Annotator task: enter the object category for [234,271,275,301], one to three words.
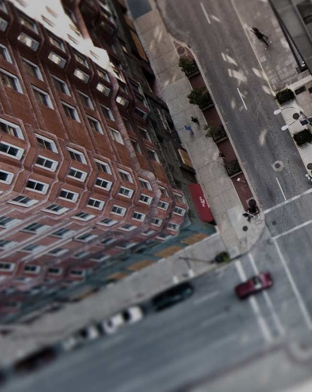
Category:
car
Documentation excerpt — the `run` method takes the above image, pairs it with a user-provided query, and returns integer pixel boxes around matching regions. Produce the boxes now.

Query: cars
[60,325,99,354]
[234,271,275,301]
[13,345,55,375]
[100,305,143,336]
[149,281,195,312]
